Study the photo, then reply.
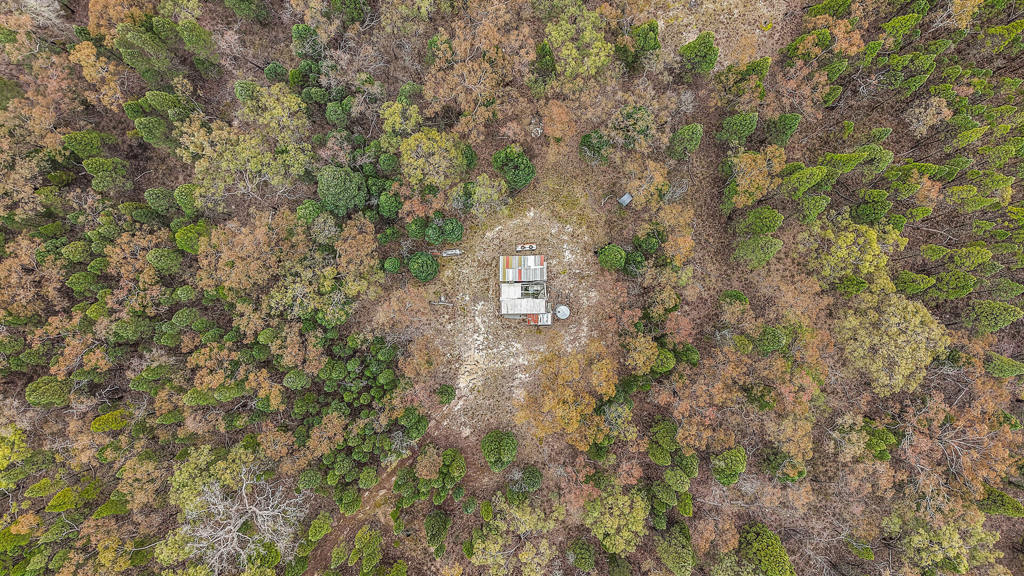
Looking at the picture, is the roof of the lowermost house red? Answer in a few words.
No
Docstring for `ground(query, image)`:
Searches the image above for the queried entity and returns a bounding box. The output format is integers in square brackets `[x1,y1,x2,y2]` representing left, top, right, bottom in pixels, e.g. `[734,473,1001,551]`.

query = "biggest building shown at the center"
[500,283,553,325]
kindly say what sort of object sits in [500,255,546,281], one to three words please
shed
